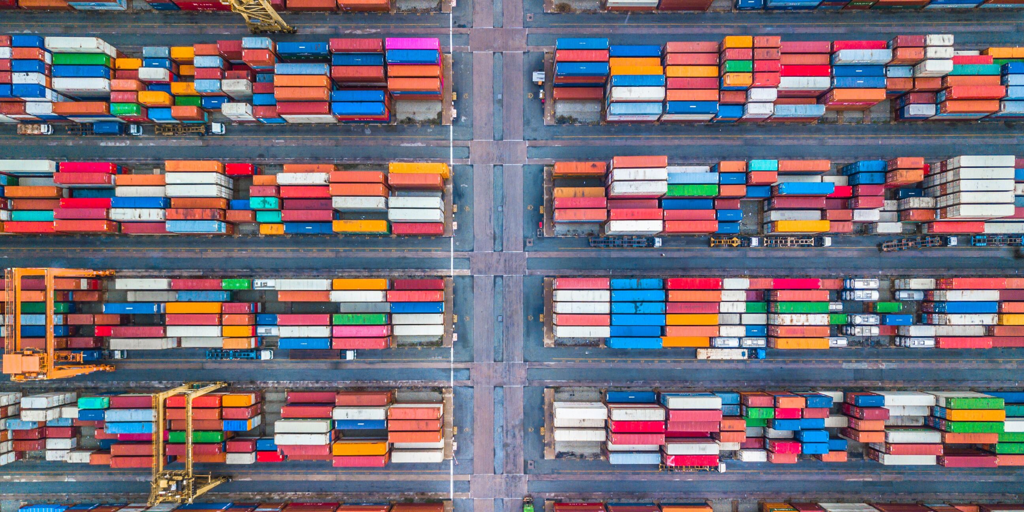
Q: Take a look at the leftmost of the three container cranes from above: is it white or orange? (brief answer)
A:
orange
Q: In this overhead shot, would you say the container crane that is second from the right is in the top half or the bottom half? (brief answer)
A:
bottom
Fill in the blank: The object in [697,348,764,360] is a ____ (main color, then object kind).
white vehicle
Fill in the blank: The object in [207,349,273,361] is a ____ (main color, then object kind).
blue vehicle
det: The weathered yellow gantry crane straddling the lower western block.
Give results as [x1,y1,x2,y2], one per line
[149,379,236,508]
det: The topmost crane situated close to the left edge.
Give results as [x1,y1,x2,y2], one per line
[1,264,117,379]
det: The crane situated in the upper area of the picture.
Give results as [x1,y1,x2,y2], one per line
[229,0,296,35]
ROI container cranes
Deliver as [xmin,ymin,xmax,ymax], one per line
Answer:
[1,264,117,379]
[229,0,296,35]
[149,379,236,508]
